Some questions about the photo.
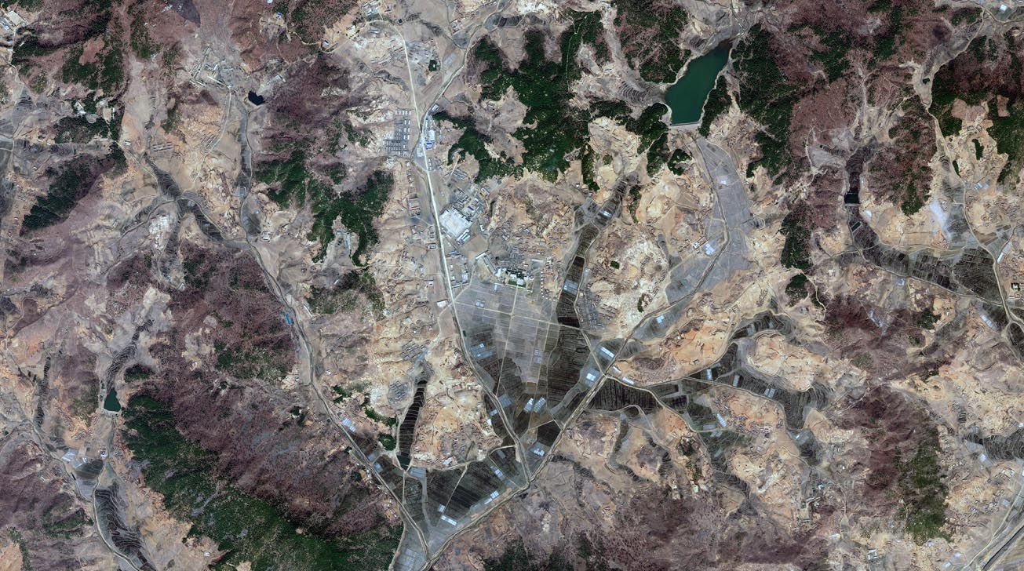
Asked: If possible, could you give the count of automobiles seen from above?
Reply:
zero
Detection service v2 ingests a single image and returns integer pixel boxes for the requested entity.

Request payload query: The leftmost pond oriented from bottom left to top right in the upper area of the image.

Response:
[665,40,731,125]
